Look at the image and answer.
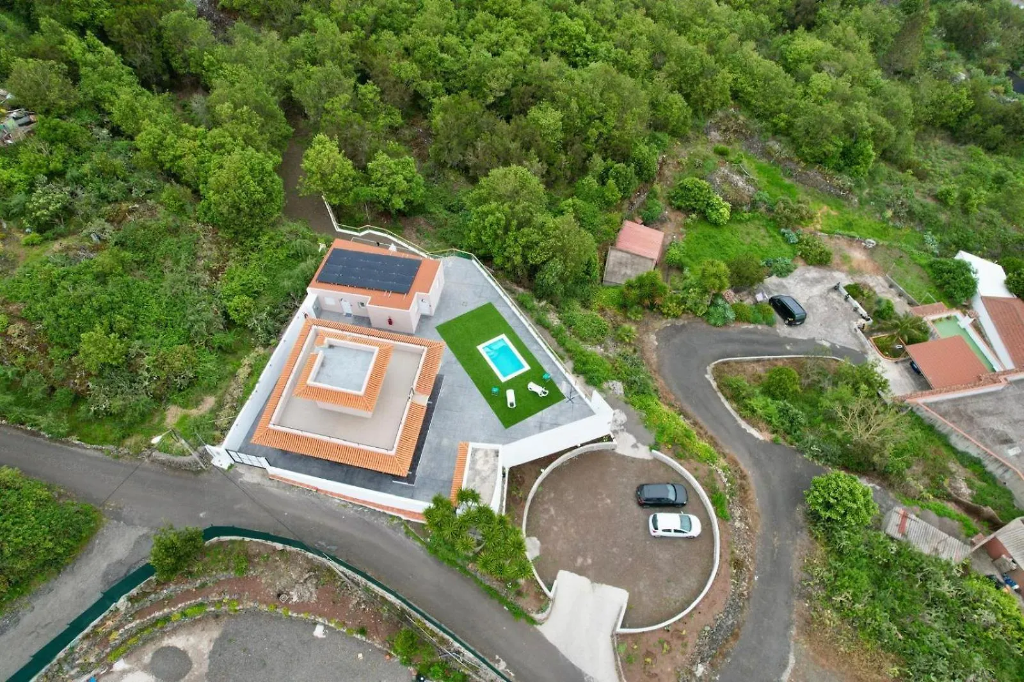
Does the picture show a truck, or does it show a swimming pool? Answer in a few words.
swimming pool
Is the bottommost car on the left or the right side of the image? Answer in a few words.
right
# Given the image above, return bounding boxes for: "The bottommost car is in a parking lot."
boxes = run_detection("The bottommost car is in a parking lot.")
[647,513,701,541]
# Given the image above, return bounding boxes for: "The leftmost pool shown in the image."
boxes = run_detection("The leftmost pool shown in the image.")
[477,333,530,382]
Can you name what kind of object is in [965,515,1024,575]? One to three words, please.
building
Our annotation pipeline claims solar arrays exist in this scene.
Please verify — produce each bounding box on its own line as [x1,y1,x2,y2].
[318,247,420,298]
